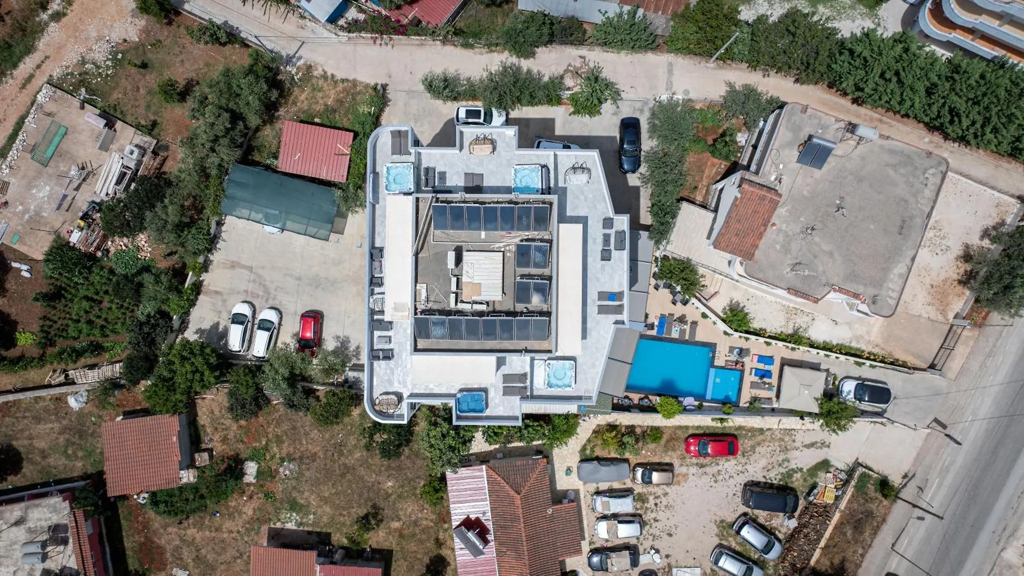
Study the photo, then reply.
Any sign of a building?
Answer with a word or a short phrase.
Yes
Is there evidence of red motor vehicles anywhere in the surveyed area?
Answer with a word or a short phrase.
Yes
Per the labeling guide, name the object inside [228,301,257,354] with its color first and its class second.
white car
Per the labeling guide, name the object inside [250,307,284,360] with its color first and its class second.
white car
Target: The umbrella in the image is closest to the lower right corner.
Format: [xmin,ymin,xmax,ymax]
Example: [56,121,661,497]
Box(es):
[779,366,826,412]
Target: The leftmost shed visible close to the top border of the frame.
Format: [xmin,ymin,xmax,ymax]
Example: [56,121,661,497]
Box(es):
[299,0,347,29]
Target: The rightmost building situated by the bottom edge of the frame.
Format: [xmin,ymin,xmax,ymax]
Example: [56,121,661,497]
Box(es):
[447,454,583,576]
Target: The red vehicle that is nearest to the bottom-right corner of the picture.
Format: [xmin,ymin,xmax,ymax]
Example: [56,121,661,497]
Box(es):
[683,434,739,460]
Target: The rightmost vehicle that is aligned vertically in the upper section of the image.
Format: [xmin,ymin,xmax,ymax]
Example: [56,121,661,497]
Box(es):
[617,117,644,174]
